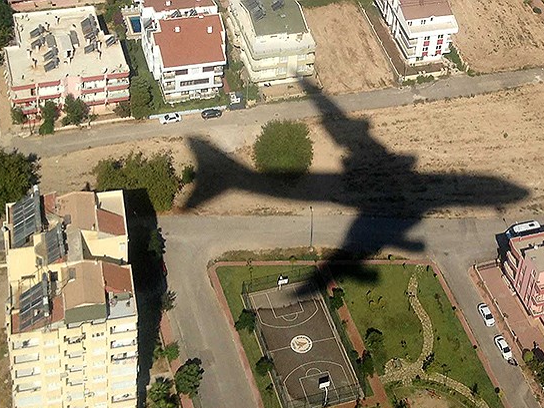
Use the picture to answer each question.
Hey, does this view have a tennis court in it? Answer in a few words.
No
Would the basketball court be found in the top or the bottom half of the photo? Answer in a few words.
bottom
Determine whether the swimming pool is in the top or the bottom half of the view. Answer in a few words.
top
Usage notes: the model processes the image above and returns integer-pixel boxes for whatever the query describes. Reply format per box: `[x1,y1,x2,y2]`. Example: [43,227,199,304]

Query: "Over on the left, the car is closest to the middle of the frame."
[199,108,225,121]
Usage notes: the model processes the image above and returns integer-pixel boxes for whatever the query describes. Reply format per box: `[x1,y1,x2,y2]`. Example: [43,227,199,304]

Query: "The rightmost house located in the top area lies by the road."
[378,0,462,64]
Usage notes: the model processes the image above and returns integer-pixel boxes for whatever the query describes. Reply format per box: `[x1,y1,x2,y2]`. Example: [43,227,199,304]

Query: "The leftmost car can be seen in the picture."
[158,111,184,125]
